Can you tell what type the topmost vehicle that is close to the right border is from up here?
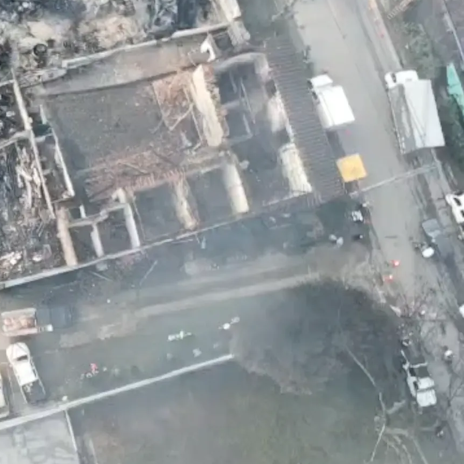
truck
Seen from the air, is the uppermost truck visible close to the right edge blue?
No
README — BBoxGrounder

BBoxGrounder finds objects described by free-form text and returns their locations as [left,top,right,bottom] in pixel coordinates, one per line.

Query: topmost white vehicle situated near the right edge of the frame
[390,68,451,154]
